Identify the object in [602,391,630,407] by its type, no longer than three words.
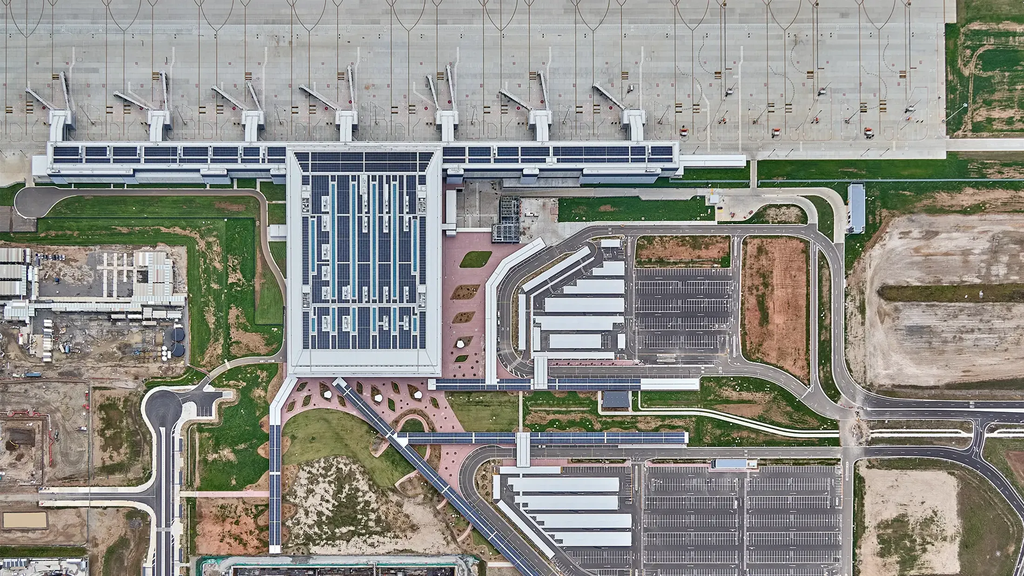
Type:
building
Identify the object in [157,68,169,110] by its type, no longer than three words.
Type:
jet bridge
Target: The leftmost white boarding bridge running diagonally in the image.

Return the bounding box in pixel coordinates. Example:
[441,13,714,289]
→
[23,87,56,110]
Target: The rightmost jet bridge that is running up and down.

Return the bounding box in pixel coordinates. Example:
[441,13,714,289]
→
[536,69,550,110]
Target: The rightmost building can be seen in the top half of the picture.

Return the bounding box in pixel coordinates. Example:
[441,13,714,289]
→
[846,184,865,234]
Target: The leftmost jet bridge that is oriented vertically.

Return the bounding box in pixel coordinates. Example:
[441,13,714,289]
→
[58,70,73,113]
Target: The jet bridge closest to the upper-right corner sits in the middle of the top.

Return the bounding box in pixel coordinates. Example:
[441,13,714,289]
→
[591,82,628,114]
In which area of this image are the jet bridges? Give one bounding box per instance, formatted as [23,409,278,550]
[536,69,550,110]
[443,64,456,111]
[157,68,169,110]
[209,85,245,113]
[245,80,264,111]
[498,88,533,113]
[111,91,151,112]
[23,87,56,110]
[58,70,73,113]
[297,84,338,114]
[591,82,628,114]
[345,64,356,111]
[424,73,440,113]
